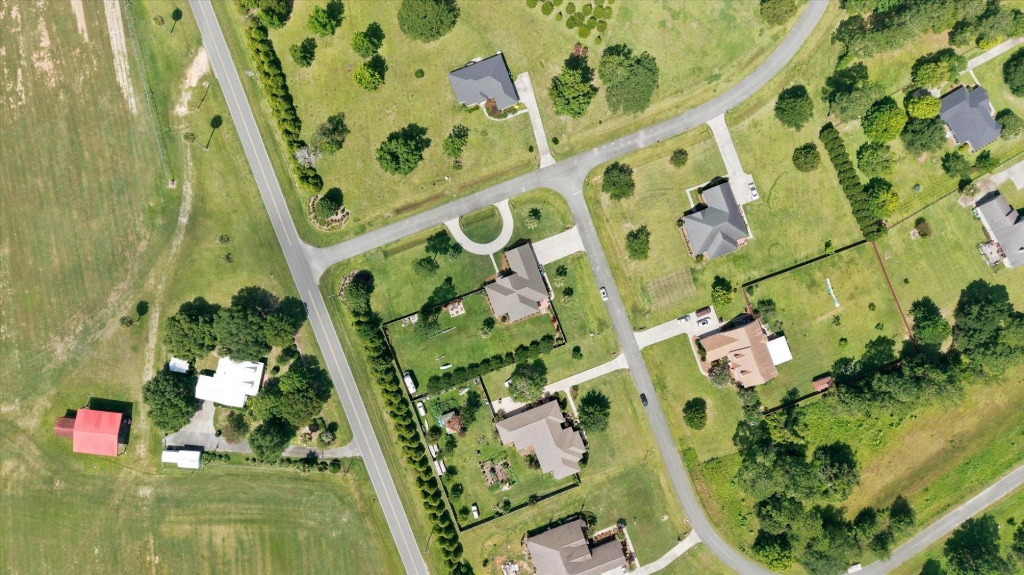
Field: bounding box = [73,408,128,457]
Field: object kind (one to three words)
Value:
barn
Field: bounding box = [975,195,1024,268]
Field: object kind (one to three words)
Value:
house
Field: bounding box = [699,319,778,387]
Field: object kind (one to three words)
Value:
house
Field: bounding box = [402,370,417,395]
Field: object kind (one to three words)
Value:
vehicle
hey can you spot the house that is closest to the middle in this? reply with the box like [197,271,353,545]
[485,243,548,322]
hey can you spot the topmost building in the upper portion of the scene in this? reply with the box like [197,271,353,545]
[449,53,518,110]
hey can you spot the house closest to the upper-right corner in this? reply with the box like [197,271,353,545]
[936,86,998,151]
